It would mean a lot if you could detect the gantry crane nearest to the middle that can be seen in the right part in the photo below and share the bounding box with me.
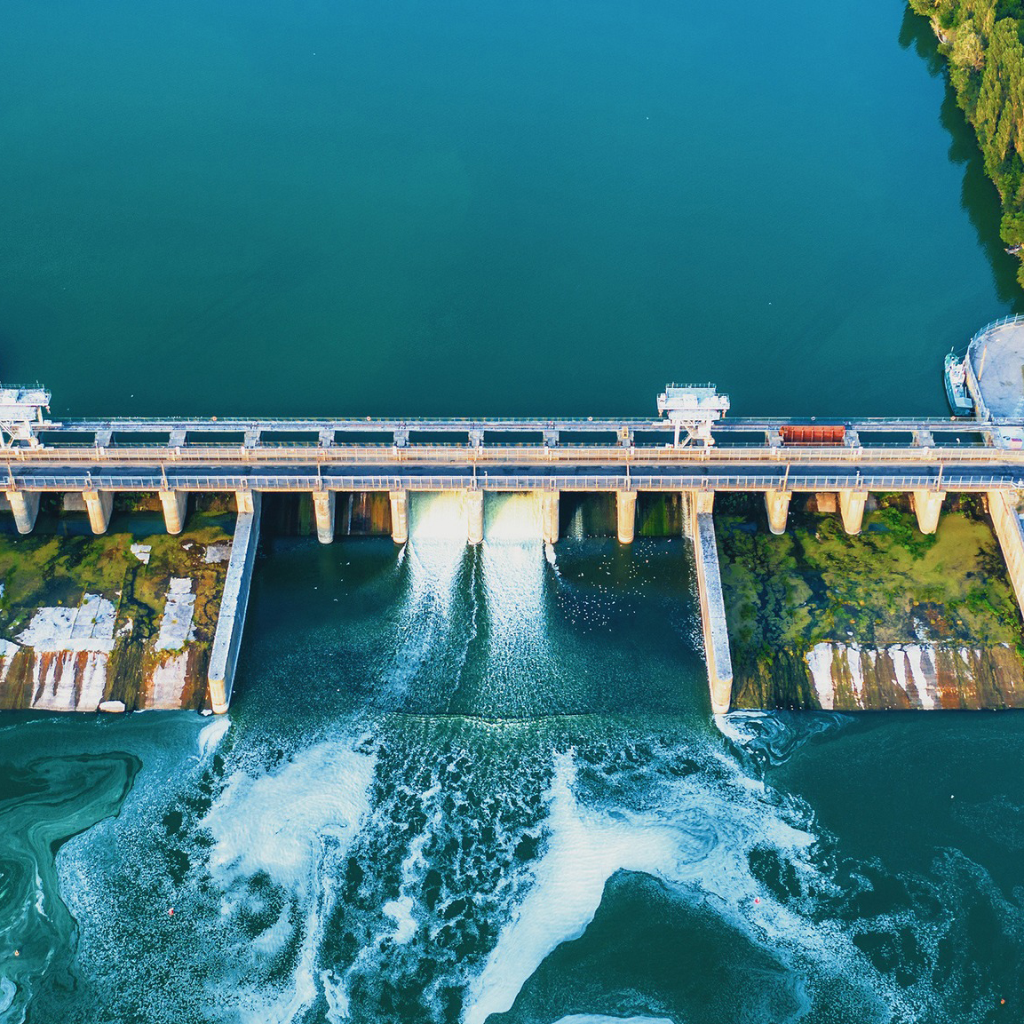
[652,377,731,447]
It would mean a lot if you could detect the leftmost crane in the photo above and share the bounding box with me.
[0,377,53,447]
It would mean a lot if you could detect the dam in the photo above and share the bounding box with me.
[0,421,1024,712]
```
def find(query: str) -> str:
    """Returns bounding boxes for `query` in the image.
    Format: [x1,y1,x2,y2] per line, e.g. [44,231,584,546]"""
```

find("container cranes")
[0,377,53,447]
[652,377,731,447]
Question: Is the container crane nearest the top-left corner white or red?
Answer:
white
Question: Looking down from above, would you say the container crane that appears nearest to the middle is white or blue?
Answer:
white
